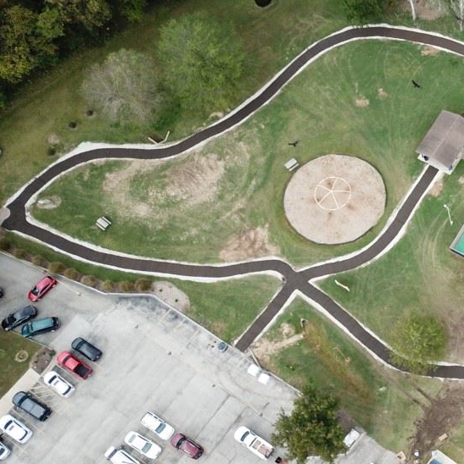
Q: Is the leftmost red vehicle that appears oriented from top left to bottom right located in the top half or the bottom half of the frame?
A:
bottom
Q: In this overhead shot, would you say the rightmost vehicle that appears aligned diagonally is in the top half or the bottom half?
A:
bottom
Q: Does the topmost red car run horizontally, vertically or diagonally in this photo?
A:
diagonally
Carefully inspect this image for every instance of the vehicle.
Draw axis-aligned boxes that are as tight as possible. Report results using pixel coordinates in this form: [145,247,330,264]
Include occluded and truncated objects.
[172,433,203,460]
[233,428,274,461]
[0,443,13,462]
[102,447,139,464]
[0,416,33,444]
[29,273,58,305]
[140,412,175,441]
[1,304,41,334]
[56,352,92,381]
[14,393,51,422]
[23,317,61,339]
[44,373,75,398]
[71,338,104,363]
[126,431,161,460]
